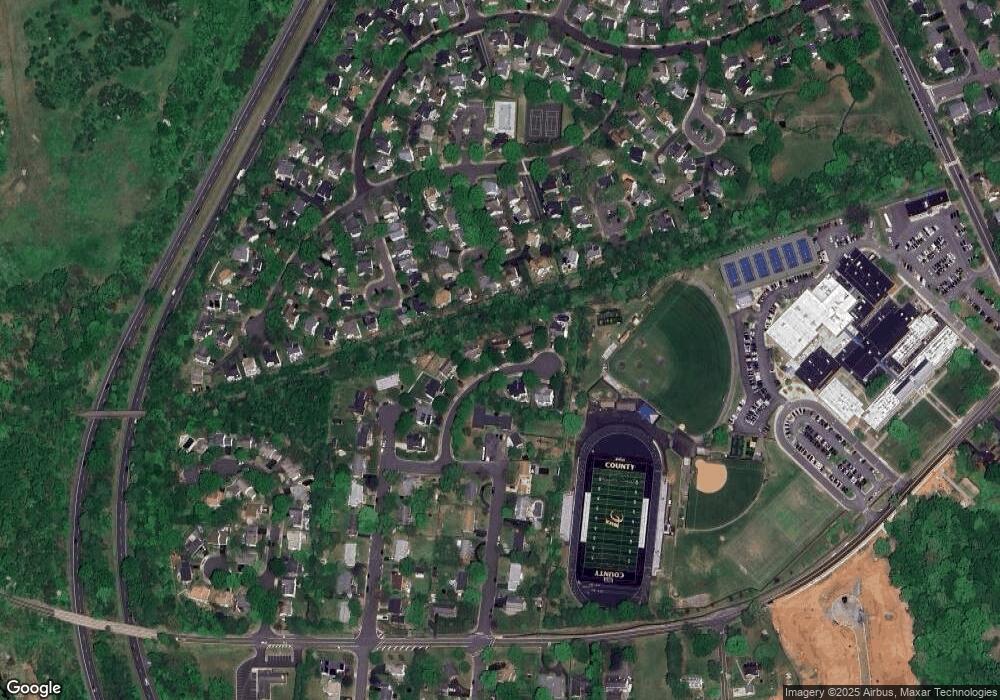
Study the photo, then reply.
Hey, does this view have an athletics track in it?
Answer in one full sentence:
Yes, the frame does contain an athletics track.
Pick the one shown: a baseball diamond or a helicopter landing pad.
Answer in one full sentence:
Visible in the photo is a baseball diamond.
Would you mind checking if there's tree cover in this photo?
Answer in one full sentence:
Yes, there's tree cover in this view.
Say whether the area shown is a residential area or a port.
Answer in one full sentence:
This image shows a residential area.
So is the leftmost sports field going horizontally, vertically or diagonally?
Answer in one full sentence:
I'd say the leftmost sports field is aligned vertically in the picture.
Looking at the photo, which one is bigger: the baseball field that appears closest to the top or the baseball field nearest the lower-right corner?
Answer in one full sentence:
The baseball field that appears closest to the top is bigger than the baseball field nearest the lower-right corner.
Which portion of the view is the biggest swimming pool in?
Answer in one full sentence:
The biggest swimming pool appears toward the top of the photo.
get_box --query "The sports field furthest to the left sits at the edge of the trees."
[580,455,649,585]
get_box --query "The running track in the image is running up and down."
[568,424,662,607]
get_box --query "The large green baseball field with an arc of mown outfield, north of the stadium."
[604,281,732,434]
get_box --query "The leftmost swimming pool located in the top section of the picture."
[494,103,516,137]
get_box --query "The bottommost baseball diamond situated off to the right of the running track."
[687,458,767,530]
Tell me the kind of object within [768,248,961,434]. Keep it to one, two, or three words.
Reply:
building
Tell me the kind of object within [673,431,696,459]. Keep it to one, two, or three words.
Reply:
building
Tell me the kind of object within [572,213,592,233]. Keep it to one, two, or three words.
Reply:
house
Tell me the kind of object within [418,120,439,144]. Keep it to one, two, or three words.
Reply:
house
